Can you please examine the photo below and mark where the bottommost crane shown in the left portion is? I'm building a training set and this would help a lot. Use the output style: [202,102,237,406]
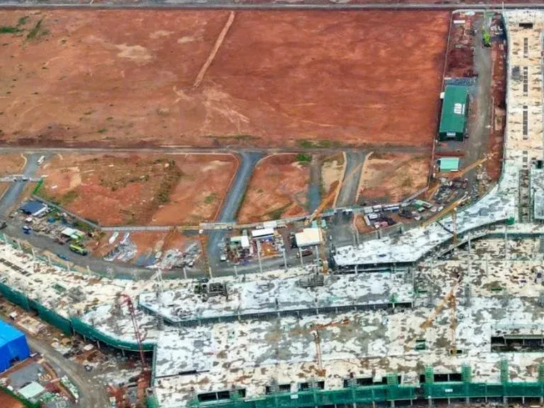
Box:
[126,297,150,385]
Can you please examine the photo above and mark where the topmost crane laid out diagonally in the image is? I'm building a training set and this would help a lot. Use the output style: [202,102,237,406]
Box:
[425,153,494,207]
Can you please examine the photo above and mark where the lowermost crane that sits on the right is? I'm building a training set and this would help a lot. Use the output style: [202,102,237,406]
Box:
[309,317,349,374]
